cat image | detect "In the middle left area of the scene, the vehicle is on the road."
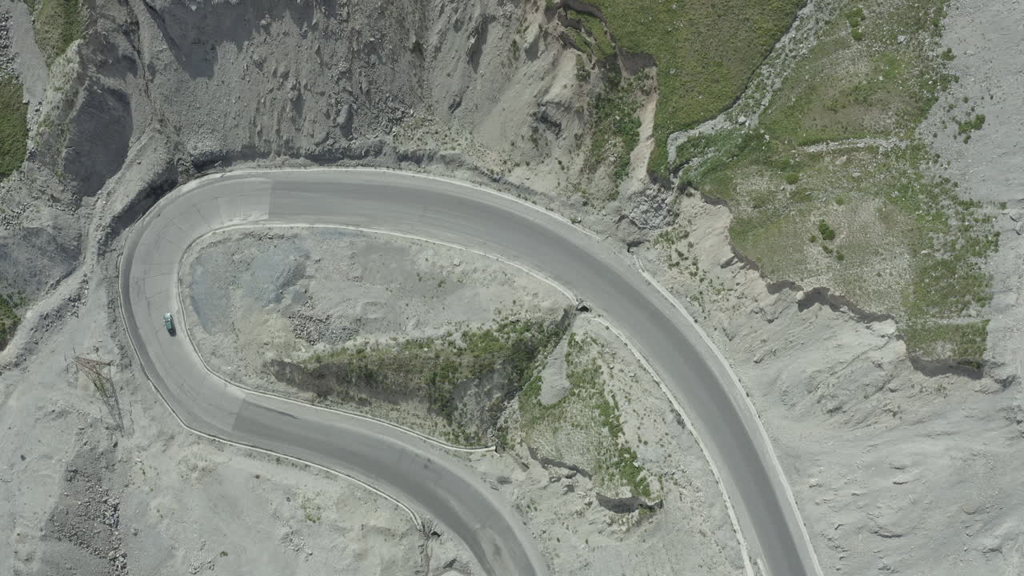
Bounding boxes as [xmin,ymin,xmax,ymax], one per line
[163,313,175,333]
